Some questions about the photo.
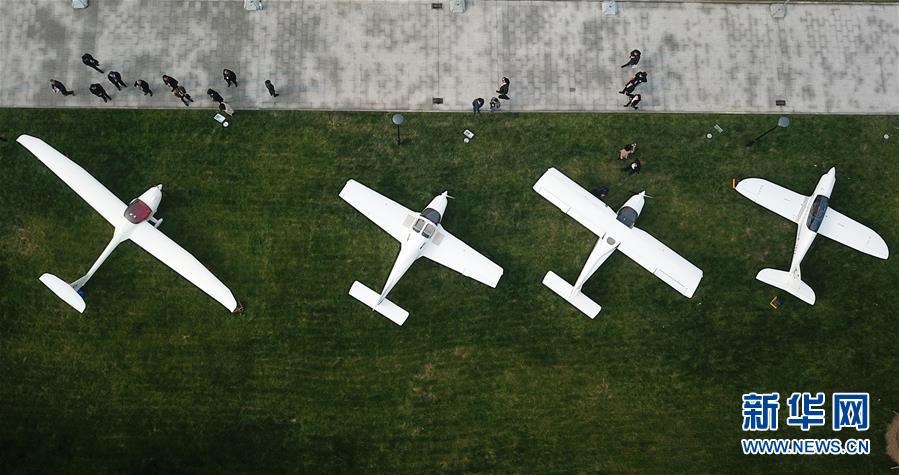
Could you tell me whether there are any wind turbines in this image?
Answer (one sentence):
No, there isn't any wind turbine down there.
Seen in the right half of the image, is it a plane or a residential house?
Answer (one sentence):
You can see a plane in the right half of the image.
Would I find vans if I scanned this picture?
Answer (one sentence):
No, the scene contains no van.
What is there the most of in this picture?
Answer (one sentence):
The scene is dominated by grass.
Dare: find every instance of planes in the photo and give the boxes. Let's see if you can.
[339,179,503,324]
[533,168,704,319]
[737,168,890,305]
[19,137,237,313]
